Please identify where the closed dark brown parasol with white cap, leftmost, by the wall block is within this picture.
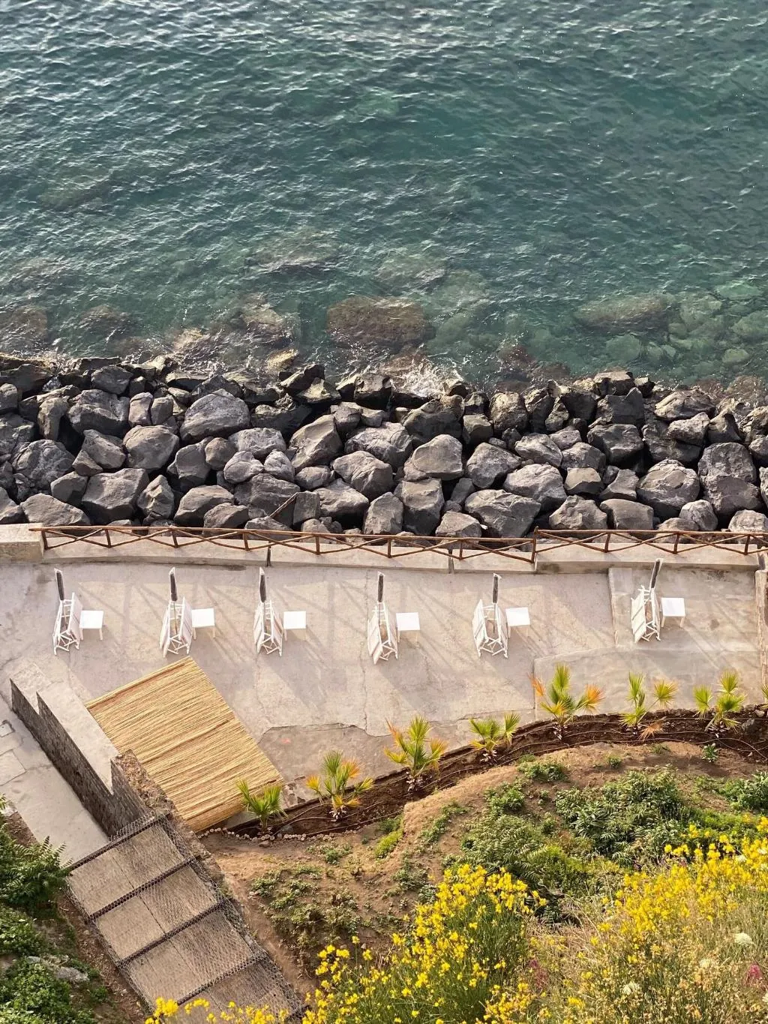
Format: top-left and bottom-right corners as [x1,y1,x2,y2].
[50,565,69,629]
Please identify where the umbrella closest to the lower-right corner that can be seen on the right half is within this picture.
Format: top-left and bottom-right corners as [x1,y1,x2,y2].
[644,557,663,624]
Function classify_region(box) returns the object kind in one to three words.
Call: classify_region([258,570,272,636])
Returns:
umbrella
